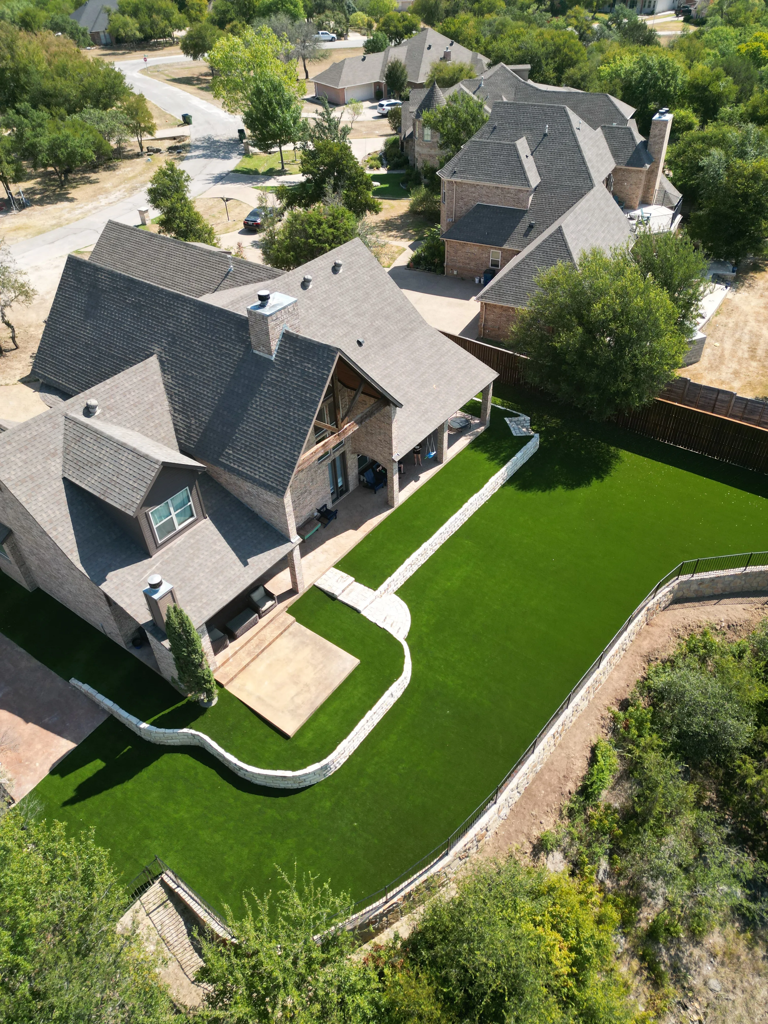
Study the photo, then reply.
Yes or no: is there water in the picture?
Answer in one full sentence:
No, there is no water in the image.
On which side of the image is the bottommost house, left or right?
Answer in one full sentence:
You can find the bottommost house on the left side of the picture.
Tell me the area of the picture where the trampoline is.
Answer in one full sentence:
The trampoline sits in the center section of the image.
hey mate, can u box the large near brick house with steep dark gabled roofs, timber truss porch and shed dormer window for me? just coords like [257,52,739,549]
[0,218,502,701]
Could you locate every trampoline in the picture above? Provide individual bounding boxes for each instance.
[449,408,472,433]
